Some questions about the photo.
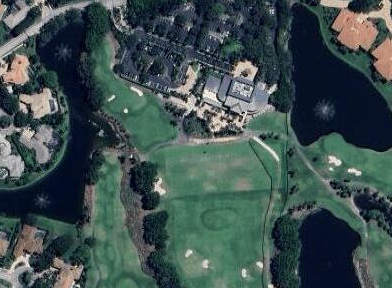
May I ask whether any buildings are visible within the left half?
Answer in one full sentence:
Yes, within the left half there is a building.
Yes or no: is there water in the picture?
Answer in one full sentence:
Yes, water shows up in the scene.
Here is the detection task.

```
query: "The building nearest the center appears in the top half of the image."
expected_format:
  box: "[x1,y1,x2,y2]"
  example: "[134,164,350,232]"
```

[195,72,255,119]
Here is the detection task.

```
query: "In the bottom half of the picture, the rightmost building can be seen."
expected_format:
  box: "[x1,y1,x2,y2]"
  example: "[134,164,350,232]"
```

[48,259,86,288]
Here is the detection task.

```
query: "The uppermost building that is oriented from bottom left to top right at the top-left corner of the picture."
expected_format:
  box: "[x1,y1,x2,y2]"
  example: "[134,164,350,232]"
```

[3,1,29,26]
